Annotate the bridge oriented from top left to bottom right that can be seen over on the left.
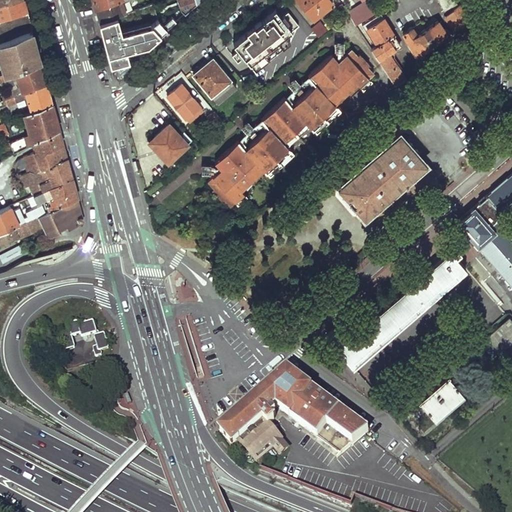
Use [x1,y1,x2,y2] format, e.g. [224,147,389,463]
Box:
[150,428,234,512]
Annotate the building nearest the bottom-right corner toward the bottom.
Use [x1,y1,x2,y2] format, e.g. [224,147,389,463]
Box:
[420,380,466,436]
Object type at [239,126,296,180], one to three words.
house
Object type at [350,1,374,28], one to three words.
shed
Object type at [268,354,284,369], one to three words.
vehicle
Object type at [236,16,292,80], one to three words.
building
